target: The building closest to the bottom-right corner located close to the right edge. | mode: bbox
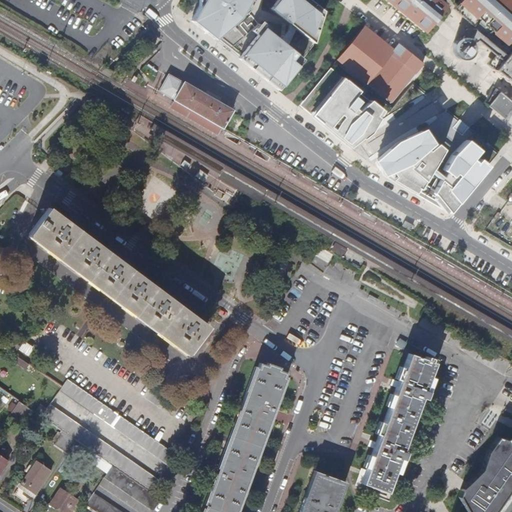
[454,436,512,512]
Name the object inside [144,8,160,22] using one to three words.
vehicle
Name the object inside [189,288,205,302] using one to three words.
vehicle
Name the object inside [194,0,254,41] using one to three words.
building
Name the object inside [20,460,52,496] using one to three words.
house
